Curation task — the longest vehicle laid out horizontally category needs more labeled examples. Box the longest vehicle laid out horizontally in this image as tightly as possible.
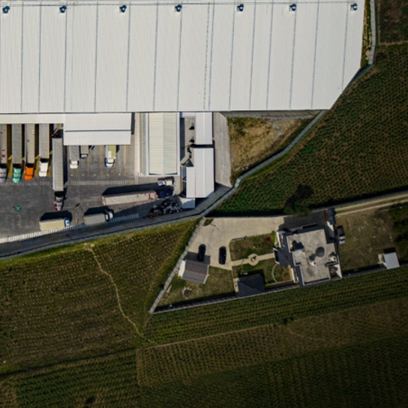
[101,186,169,205]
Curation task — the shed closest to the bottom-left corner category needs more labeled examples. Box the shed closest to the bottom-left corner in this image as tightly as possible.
[175,257,208,283]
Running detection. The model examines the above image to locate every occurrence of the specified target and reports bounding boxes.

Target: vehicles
[101,186,169,205]
[83,213,111,225]
[197,246,205,261]
[337,226,345,245]
[80,145,89,161]
[42,219,69,229]
[69,145,79,168]
[38,124,48,173]
[0,125,7,179]
[24,124,34,179]
[156,179,174,186]
[50,138,61,205]
[218,247,226,262]
[11,124,22,179]
[107,145,116,167]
